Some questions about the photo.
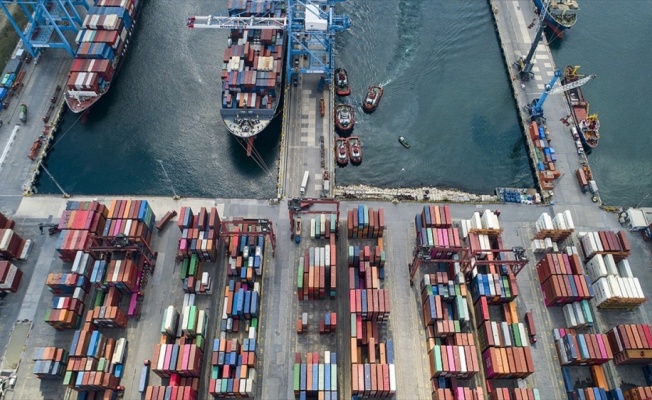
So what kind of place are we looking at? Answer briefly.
port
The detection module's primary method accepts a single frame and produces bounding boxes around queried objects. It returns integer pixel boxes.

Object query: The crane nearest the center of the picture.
[288,202,340,240]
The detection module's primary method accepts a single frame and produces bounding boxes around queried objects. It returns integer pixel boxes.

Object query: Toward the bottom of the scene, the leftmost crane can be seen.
[79,236,153,276]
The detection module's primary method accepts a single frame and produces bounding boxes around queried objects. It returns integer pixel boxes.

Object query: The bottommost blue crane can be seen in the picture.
[520,75,590,118]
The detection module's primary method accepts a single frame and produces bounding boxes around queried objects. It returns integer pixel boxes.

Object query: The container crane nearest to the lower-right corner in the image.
[459,248,528,287]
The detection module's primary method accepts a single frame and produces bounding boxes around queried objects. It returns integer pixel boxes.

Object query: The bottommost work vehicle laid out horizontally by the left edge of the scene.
[29,225,62,238]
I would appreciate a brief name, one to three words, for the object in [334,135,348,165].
boat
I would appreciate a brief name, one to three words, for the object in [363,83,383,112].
boat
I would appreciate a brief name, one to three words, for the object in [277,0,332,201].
pier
